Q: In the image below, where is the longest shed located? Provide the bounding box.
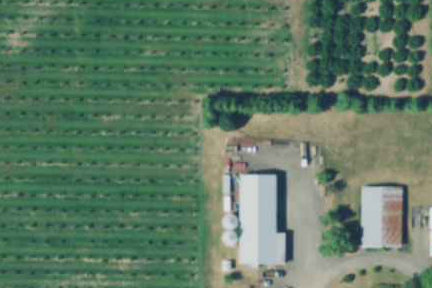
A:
[240,176,286,269]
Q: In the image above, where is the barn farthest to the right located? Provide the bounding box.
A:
[362,187,404,248]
